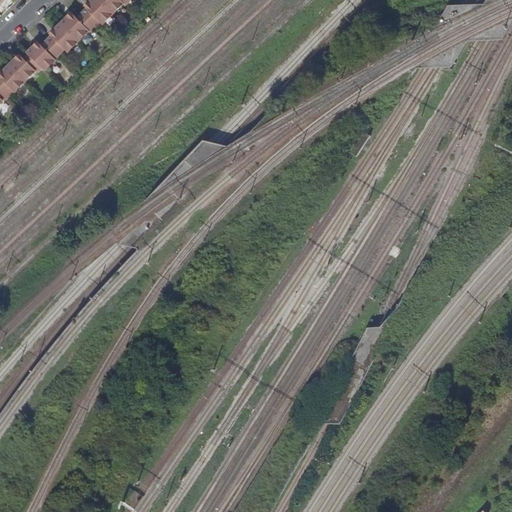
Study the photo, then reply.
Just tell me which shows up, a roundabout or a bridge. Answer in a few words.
bridge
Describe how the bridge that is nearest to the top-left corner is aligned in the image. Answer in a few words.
on a diagonal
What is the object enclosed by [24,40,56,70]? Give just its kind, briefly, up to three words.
house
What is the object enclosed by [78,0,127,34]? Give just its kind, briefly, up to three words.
house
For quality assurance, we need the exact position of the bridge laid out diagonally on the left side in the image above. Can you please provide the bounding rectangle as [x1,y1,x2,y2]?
[110,130,252,250]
